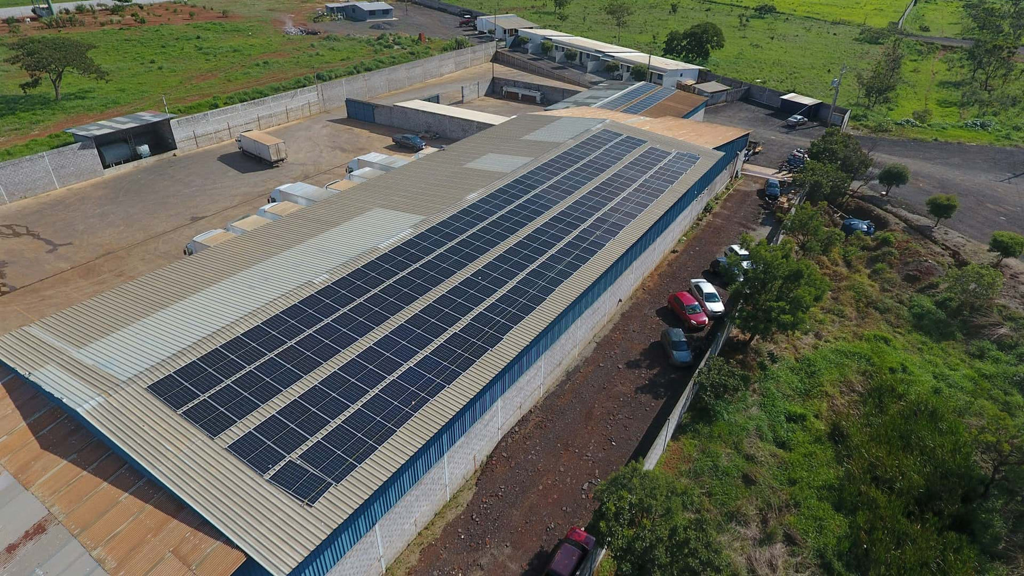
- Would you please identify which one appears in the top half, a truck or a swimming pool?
truck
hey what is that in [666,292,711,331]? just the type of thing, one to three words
car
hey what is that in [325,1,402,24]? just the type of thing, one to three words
house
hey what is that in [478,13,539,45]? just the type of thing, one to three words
barn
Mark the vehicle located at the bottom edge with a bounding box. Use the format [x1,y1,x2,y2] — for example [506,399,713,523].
[523,518,600,576]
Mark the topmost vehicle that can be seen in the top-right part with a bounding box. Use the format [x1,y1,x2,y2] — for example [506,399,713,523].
[784,115,810,129]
